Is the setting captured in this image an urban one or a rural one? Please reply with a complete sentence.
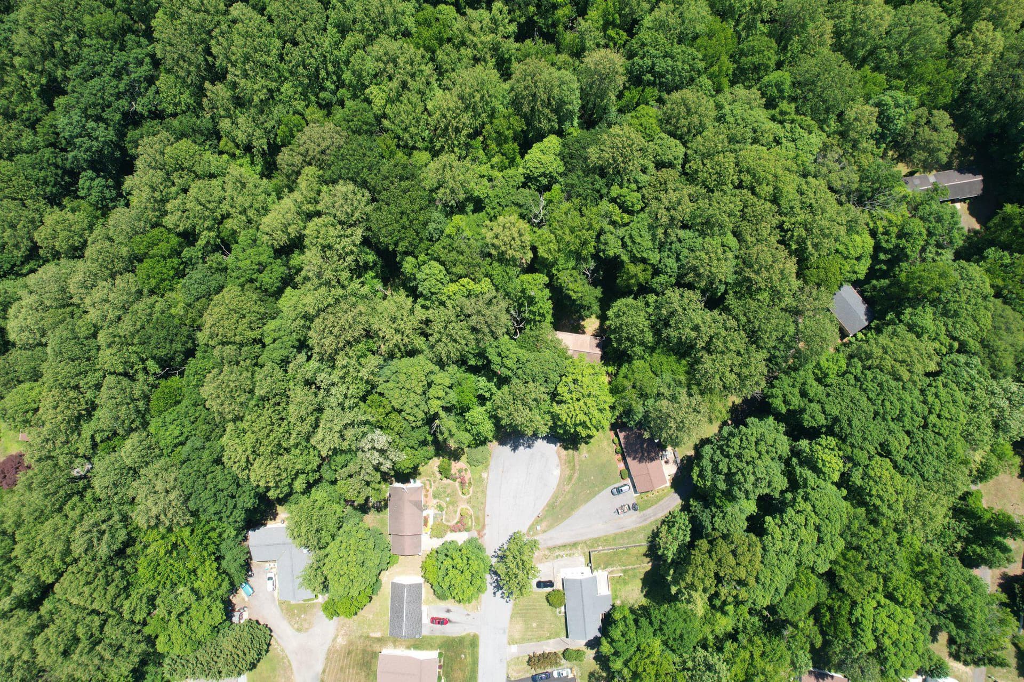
This place is rural.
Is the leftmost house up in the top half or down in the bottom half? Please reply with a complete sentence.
Seen from above, the leftmost house lies in the bottom half of the view.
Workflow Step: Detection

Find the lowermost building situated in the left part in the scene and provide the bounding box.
[378,649,439,682]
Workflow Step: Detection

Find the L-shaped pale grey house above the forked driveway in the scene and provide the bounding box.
[248,525,318,603]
